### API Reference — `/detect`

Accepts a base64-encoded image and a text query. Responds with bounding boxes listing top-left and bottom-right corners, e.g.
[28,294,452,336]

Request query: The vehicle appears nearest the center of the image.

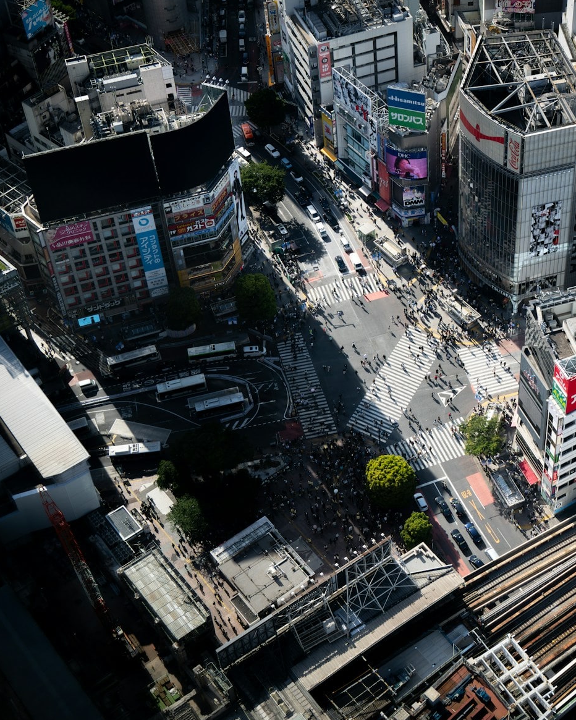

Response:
[242,344,266,357]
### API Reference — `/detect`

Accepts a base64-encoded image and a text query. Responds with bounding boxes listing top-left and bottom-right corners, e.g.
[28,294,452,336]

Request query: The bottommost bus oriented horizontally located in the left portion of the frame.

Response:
[103,446,161,471]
